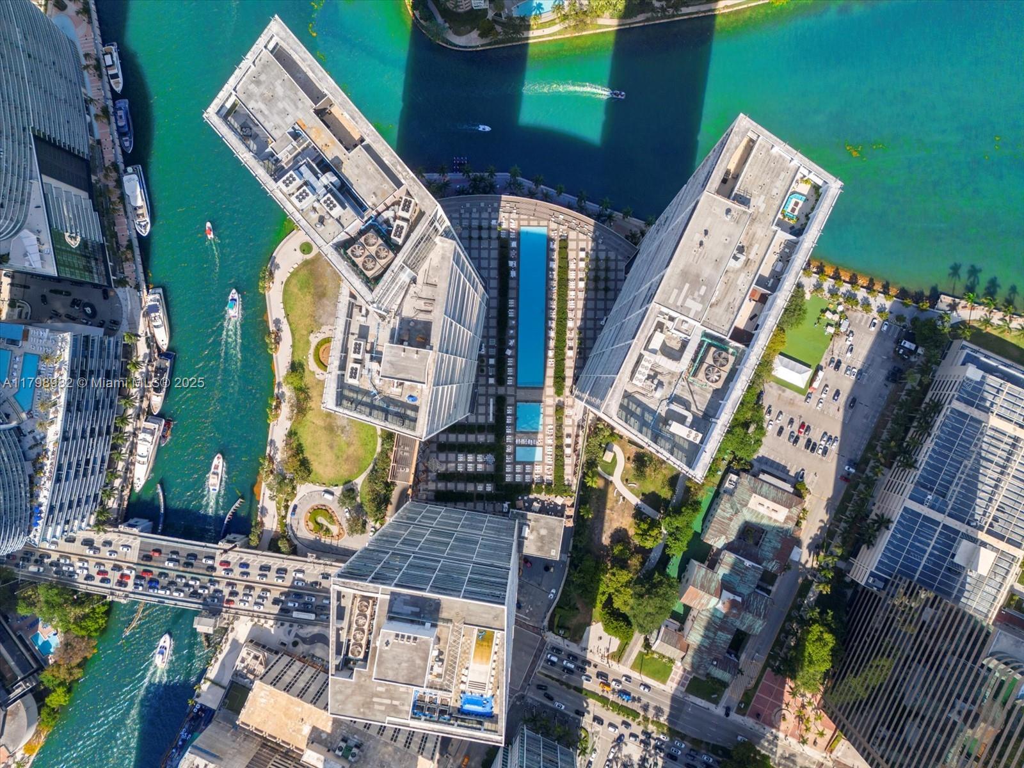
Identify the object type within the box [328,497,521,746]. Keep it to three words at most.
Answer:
building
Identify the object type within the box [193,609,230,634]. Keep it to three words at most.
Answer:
house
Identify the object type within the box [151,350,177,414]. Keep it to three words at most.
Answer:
boat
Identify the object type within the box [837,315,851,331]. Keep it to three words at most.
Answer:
vehicle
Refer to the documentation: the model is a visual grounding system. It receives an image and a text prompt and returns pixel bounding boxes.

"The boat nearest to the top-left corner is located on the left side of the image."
[105,42,125,94]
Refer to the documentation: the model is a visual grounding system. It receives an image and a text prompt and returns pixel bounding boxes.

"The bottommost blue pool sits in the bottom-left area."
[31,630,60,656]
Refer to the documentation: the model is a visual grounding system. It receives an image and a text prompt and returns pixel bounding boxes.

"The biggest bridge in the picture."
[3,529,339,627]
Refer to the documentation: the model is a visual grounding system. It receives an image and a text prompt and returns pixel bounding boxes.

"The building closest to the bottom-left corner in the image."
[0,686,47,756]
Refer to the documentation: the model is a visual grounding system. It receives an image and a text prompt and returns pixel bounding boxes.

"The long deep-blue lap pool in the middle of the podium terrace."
[515,226,549,388]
